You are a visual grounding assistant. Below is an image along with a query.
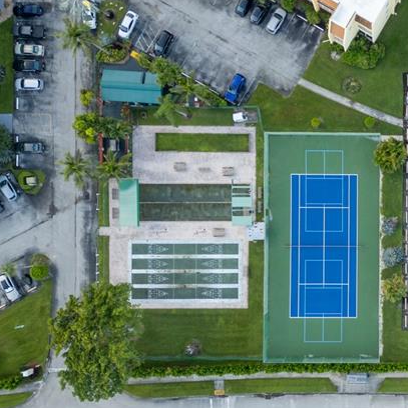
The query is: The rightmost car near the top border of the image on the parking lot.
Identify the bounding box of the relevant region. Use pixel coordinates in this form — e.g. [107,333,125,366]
[266,8,286,36]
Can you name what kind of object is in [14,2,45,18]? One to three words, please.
car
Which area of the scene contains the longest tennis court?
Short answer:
right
